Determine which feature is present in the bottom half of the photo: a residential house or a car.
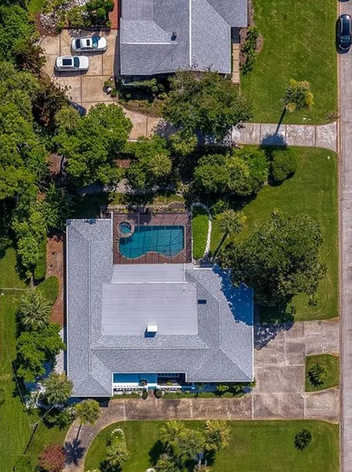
residential house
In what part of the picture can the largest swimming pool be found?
center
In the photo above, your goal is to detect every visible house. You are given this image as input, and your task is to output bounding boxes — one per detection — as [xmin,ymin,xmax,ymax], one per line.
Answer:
[67,219,254,397]
[119,0,248,78]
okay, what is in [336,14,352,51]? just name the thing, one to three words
car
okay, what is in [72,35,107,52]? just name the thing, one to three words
car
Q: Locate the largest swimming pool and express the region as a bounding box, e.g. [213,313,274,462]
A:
[118,224,187,260]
